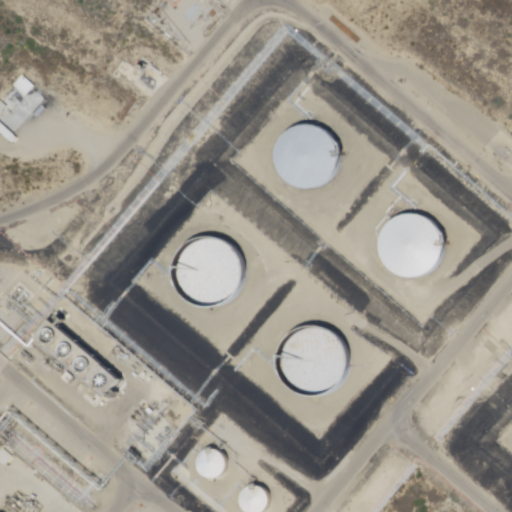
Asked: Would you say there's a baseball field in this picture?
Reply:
No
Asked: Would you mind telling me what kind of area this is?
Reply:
industrial area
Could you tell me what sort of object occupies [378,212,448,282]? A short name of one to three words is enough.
storage tank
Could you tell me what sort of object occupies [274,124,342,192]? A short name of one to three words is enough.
storage tank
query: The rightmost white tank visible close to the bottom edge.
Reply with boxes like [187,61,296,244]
[238,484,272,512]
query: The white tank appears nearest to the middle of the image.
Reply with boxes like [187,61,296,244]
[170,235,246,308]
